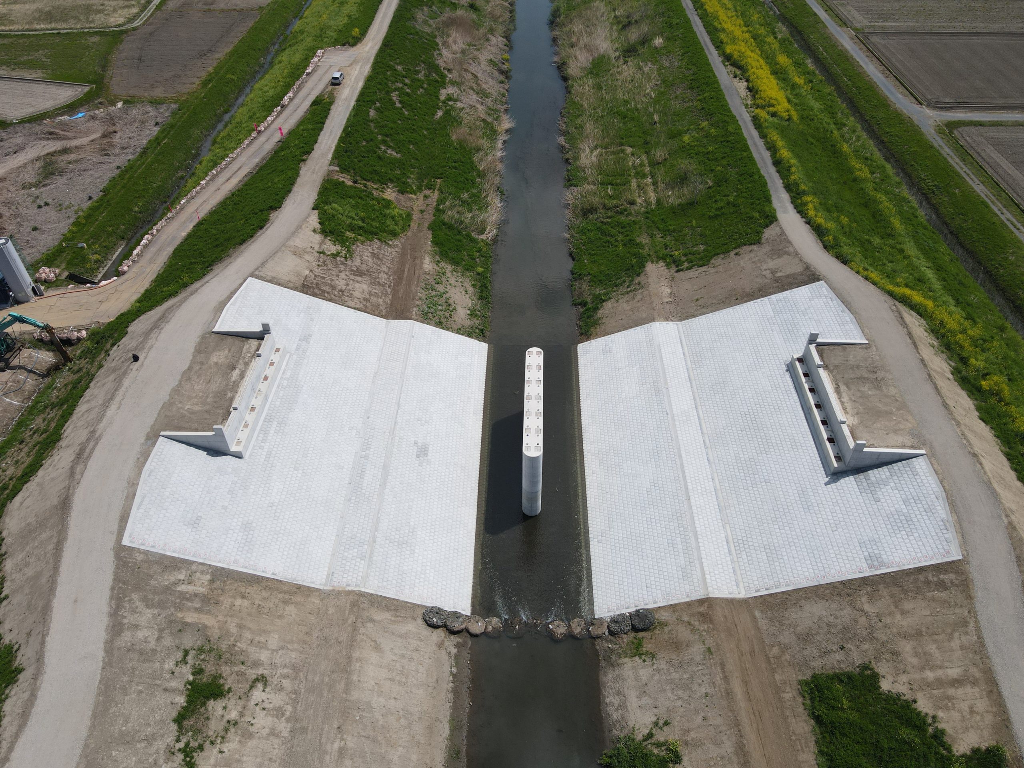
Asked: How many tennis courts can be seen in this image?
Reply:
0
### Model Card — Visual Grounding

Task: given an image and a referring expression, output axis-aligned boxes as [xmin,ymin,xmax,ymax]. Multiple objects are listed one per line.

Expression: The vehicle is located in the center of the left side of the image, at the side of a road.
[0,308,75,369]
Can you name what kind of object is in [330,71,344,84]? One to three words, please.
vehicle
